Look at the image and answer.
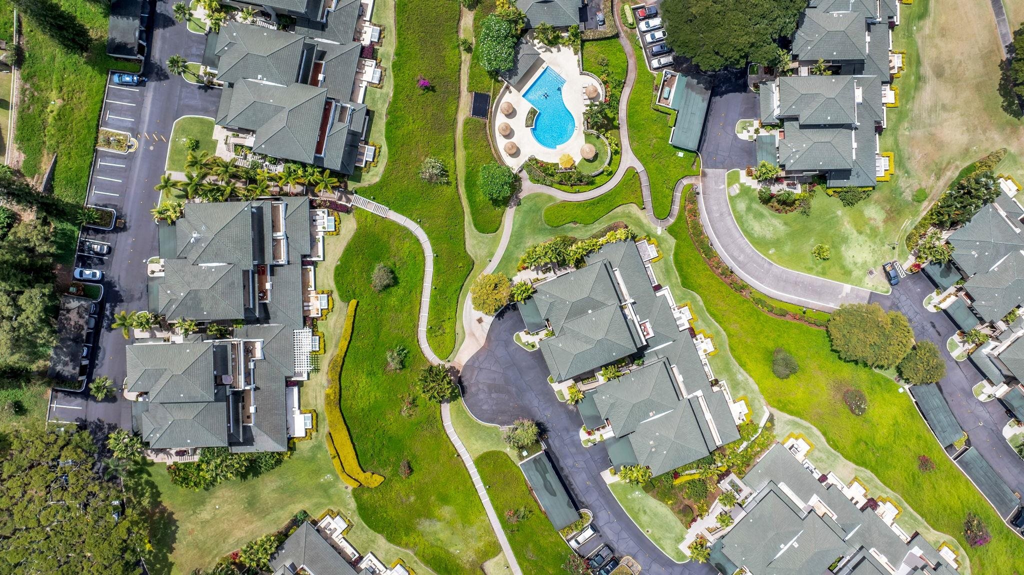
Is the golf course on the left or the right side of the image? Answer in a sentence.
The golf course appears in the right half of the scene.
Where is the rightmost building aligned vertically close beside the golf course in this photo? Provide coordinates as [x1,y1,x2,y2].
[917,176,1024,432]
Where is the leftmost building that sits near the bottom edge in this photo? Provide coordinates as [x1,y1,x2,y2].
[269,514,389,575]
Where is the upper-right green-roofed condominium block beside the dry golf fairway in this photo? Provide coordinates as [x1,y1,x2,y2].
[752,0,900,187]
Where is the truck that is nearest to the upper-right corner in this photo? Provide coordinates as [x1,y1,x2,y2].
[879,259,901,288]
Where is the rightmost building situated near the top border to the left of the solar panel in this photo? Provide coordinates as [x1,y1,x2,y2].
[202,0,378,175]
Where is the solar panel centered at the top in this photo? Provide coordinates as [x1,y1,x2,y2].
[470,92,490,119]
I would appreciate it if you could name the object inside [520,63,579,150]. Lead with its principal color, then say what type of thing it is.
blue swimming pool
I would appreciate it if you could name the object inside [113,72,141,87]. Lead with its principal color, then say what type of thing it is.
blue car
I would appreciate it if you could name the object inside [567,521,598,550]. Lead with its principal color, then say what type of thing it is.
white van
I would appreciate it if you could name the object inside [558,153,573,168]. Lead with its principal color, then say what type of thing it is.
yellow umbrella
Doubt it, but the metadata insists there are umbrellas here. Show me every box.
[558,153,573,168]
[503,141,517,156]
[498,123,512,137]
[580,144,596,160]
[500,102,514,116]
[585,86,598,99]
